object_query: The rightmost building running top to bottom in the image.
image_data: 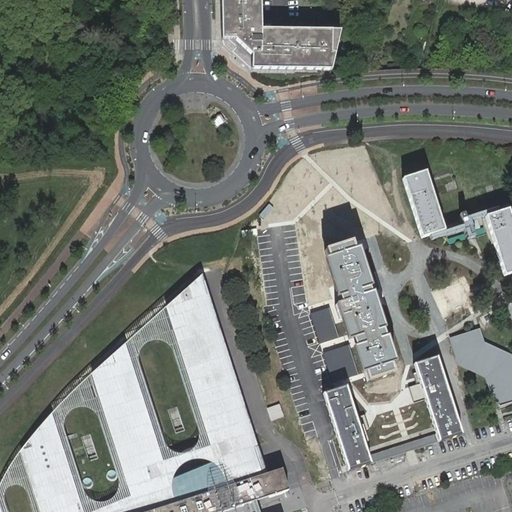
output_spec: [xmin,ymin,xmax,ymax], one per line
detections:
[484,206,512,276]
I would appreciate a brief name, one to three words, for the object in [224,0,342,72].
building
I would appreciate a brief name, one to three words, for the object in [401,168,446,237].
building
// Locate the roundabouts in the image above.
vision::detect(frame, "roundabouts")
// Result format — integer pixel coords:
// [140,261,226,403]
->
[130,74,262,207]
